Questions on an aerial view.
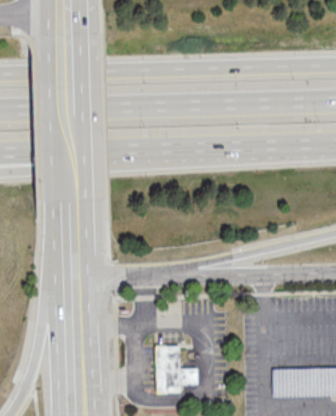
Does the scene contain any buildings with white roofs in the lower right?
Yes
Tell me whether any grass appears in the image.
Yes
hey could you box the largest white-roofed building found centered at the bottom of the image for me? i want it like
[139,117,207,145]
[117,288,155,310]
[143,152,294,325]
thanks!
[156,345,199,395]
